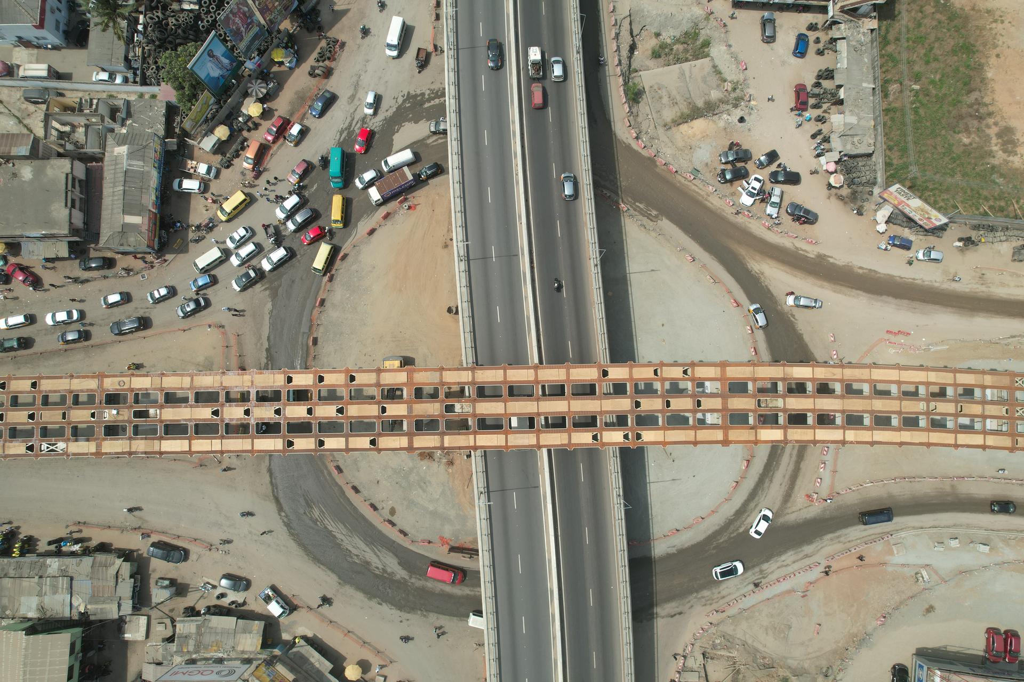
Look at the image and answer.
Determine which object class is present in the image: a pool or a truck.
truck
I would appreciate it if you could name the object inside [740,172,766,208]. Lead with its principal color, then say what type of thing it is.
white car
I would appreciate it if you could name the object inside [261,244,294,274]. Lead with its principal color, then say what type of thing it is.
white car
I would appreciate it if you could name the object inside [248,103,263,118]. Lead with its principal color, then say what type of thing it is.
yellow umbrella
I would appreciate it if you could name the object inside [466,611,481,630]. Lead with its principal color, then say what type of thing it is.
white vehicle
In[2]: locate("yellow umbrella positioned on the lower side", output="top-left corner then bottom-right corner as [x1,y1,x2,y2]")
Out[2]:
[344,663,361,681]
